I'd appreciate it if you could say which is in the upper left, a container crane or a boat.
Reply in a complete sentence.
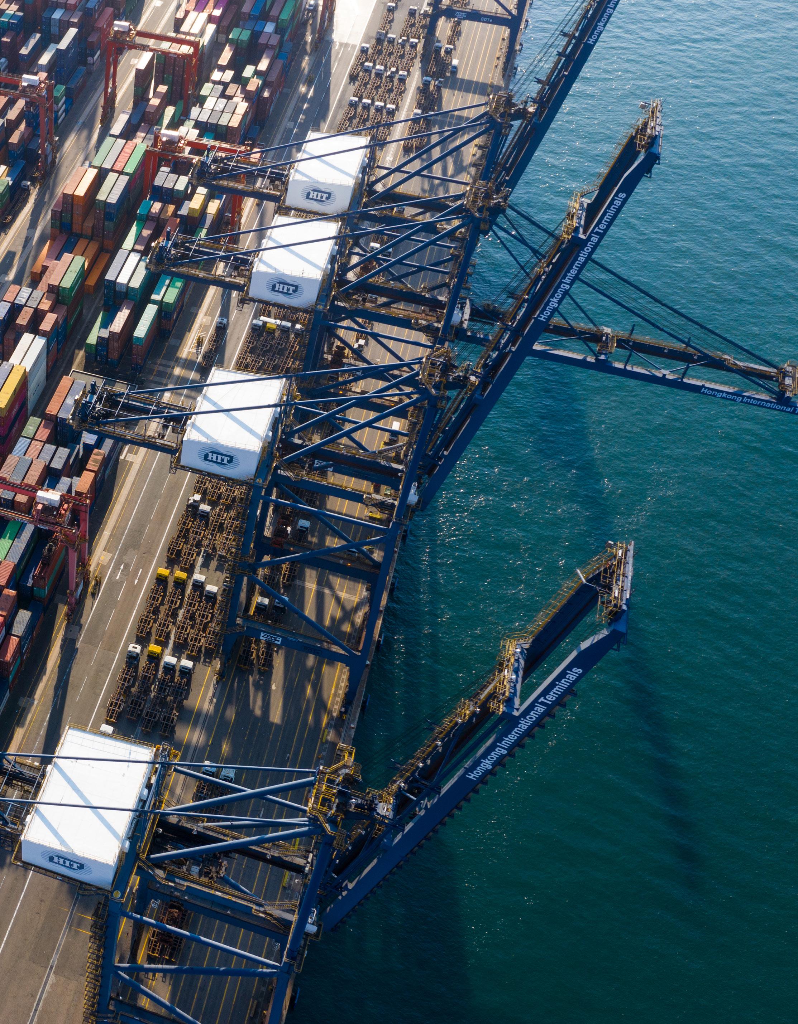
You can see a container crane in the upper left.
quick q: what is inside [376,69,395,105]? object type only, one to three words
vehicle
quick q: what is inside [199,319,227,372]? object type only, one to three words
truck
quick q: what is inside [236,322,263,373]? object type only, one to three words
truck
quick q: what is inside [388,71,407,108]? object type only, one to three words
vehicle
